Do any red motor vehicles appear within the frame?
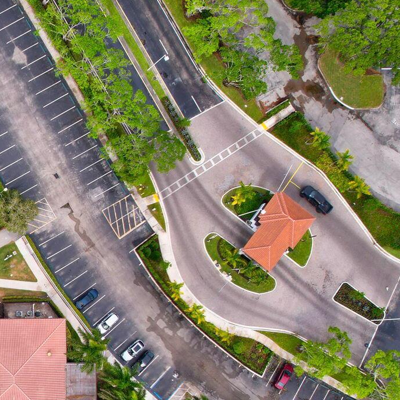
Yes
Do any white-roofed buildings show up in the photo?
No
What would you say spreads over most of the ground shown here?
paved ground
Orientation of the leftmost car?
at an angle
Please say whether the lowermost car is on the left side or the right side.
right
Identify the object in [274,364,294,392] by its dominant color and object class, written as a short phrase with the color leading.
red car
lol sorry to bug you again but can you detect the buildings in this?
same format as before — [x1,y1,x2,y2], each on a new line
[0,318,97,400]
[236,191,316,273]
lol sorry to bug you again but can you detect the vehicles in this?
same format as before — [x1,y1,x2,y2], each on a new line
[133,349,159,374]
[301,184,338,215]
[97,310,121,336]
[75,286,101,310]
[274,364,294,392]
[120,337,147,363]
